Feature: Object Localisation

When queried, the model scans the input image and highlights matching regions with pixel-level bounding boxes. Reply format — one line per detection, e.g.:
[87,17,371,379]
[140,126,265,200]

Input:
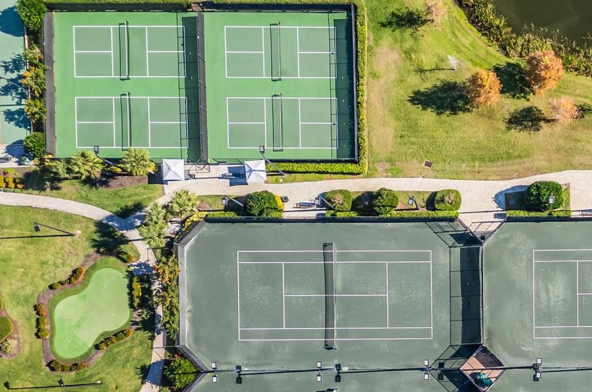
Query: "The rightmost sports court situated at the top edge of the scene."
[204,11,352,87]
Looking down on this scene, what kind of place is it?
sports ground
